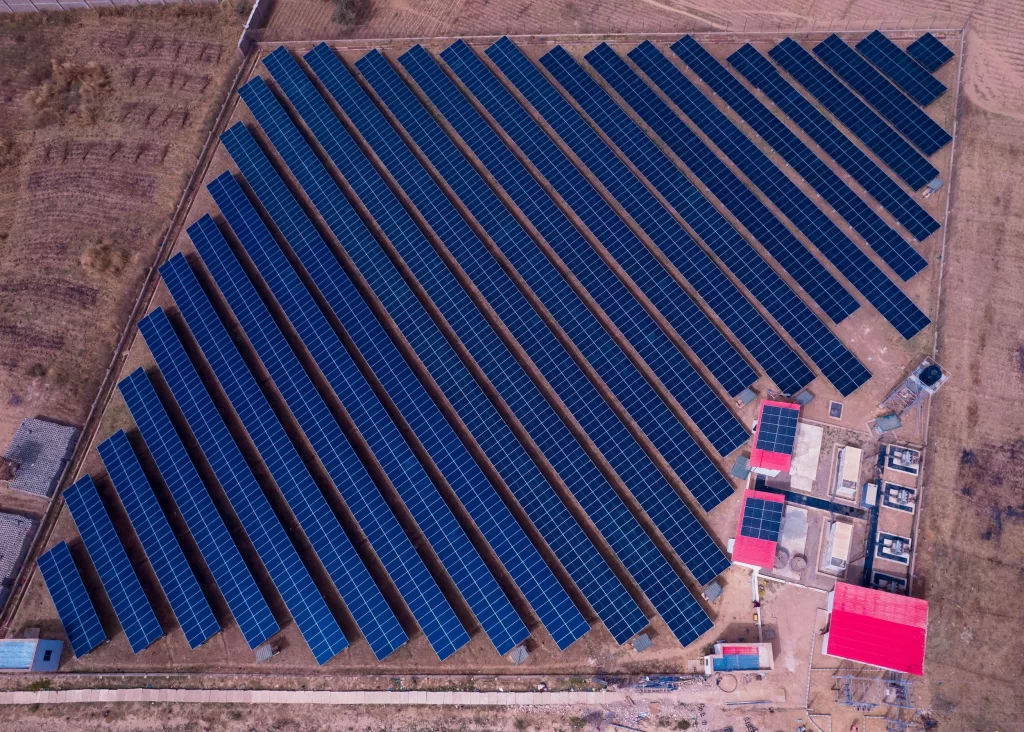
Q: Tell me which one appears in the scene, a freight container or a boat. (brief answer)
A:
freight container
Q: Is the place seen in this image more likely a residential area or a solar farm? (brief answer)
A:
solar farm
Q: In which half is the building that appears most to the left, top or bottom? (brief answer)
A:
bottom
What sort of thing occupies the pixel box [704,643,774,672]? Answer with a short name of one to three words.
building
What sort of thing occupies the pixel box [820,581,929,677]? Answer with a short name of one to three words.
shed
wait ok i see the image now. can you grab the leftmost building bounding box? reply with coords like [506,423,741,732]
[0,639,62,672]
